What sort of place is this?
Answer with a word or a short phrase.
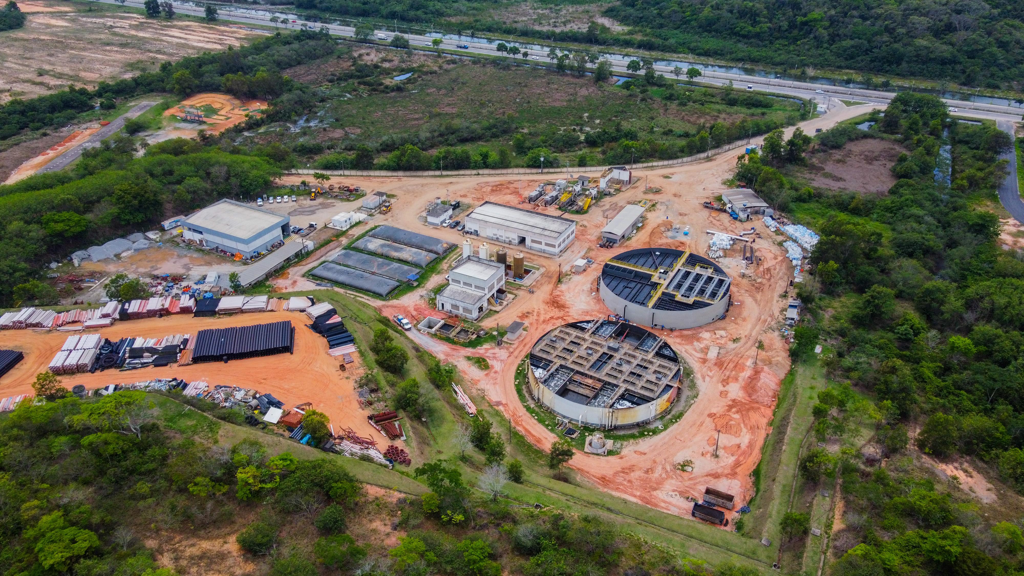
industrial area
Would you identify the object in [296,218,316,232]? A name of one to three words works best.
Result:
vehicle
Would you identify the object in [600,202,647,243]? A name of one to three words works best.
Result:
shed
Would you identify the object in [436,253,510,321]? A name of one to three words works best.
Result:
building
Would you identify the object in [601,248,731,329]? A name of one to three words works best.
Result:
storage tank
